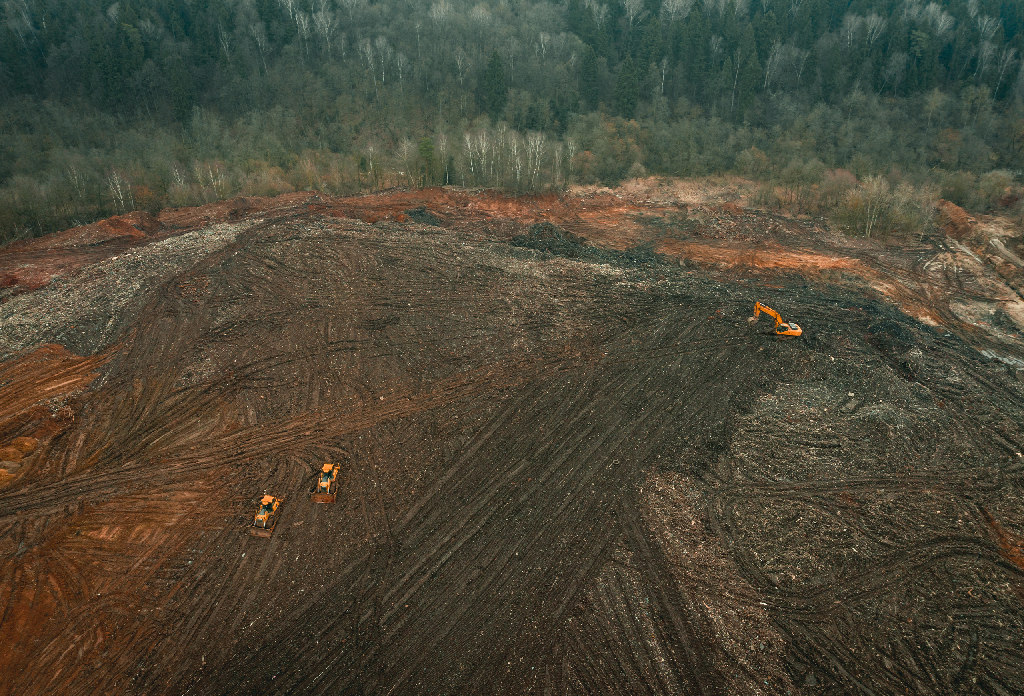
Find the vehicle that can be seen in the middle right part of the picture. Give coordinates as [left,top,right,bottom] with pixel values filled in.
[749,303,803,345]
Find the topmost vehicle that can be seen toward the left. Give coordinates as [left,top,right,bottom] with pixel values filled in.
[311,466,339,505]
